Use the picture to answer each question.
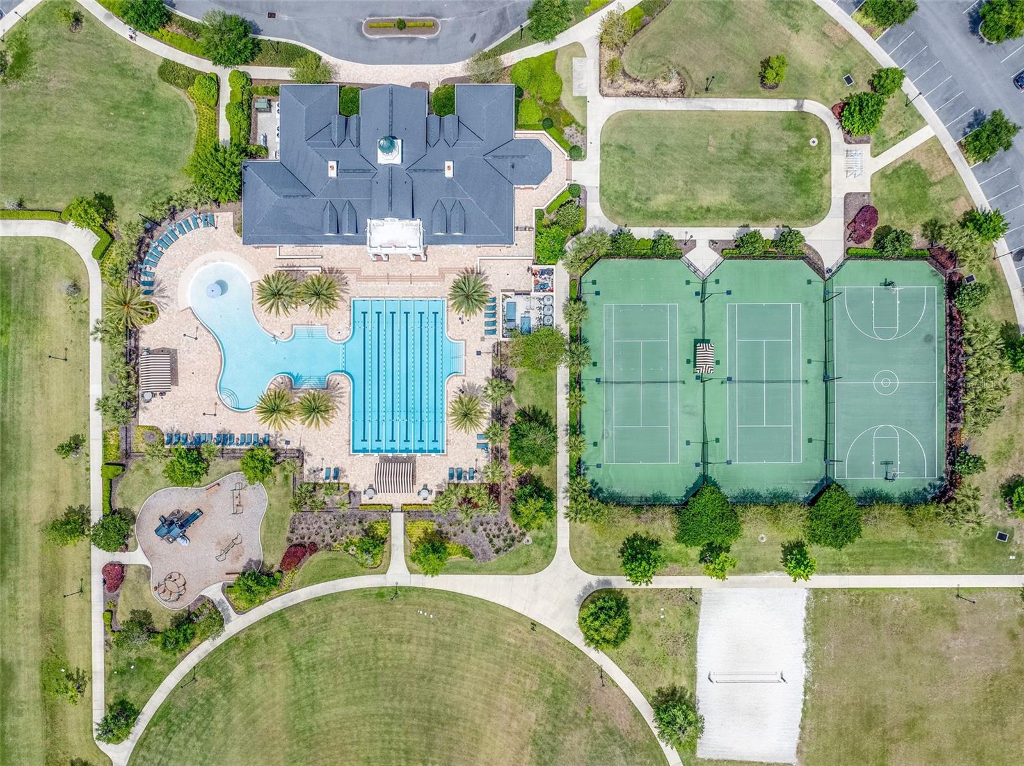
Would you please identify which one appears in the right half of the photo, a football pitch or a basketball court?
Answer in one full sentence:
The one visible in the right half of the photo is a basketball court.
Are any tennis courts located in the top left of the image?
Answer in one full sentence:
No, no tennis court is visible in the top left of the image.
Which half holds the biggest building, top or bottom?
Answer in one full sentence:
The biggest building is in the top half of the image.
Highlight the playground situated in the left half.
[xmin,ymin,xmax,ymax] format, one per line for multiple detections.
[133,471,268,612]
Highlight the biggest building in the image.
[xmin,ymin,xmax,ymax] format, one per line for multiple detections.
[242,84,552,260]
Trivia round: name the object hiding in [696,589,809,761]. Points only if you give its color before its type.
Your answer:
white sports court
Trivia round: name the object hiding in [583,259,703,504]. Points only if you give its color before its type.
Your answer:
green tennis court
